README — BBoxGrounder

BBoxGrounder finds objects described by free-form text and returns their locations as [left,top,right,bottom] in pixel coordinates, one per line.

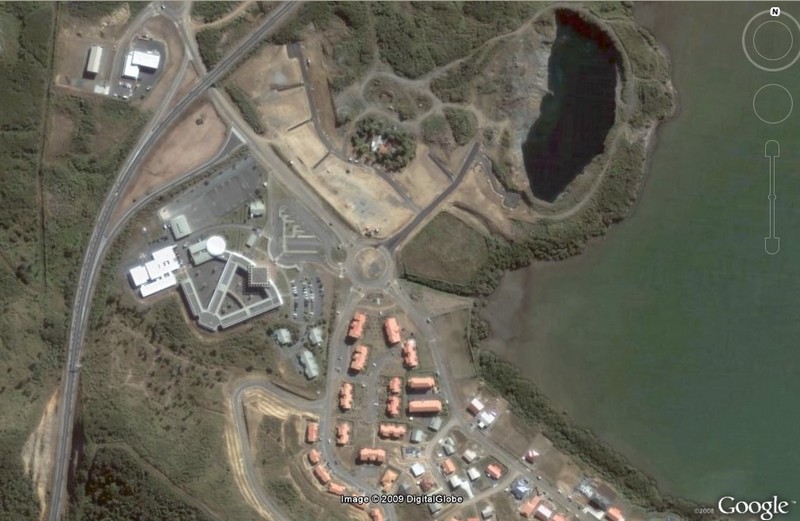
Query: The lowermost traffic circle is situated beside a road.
[338,238,399,303]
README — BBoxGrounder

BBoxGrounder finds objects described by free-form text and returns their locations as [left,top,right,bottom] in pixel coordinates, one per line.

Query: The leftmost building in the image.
[86,45,102,73]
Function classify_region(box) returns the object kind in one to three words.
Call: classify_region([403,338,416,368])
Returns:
building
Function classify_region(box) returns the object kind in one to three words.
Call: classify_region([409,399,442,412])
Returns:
building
